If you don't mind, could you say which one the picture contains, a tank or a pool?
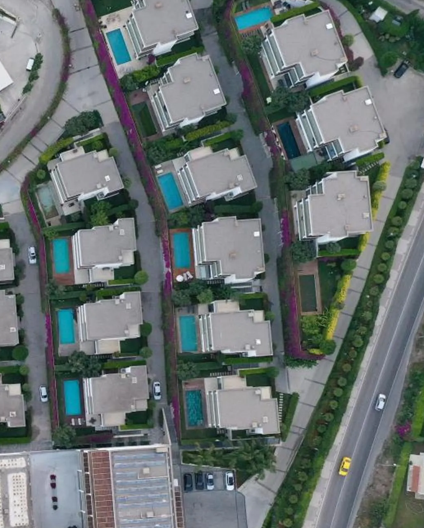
pool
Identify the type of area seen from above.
residential area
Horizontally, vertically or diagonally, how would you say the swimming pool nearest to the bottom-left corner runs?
vertically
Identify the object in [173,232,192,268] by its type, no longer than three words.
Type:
swimming pool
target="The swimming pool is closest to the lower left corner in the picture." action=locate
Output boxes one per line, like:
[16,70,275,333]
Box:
[62,379,83,416]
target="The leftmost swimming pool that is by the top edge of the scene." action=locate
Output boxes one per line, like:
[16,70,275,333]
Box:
[104,26,133,65]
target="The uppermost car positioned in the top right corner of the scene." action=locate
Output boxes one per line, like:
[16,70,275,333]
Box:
[393,60,408,78]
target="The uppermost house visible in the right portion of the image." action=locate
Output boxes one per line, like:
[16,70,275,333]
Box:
[259,10,347,88]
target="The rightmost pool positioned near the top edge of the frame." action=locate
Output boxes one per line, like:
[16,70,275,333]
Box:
[233,5,274,31]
